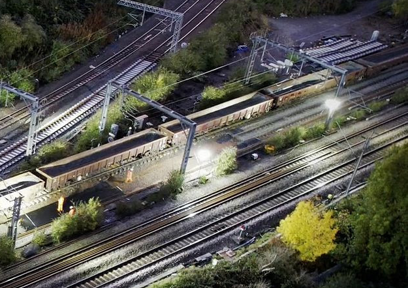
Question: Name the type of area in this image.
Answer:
rail yard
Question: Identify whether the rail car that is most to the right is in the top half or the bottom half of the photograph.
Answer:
top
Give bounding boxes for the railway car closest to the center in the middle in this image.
[156,90,273,149]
